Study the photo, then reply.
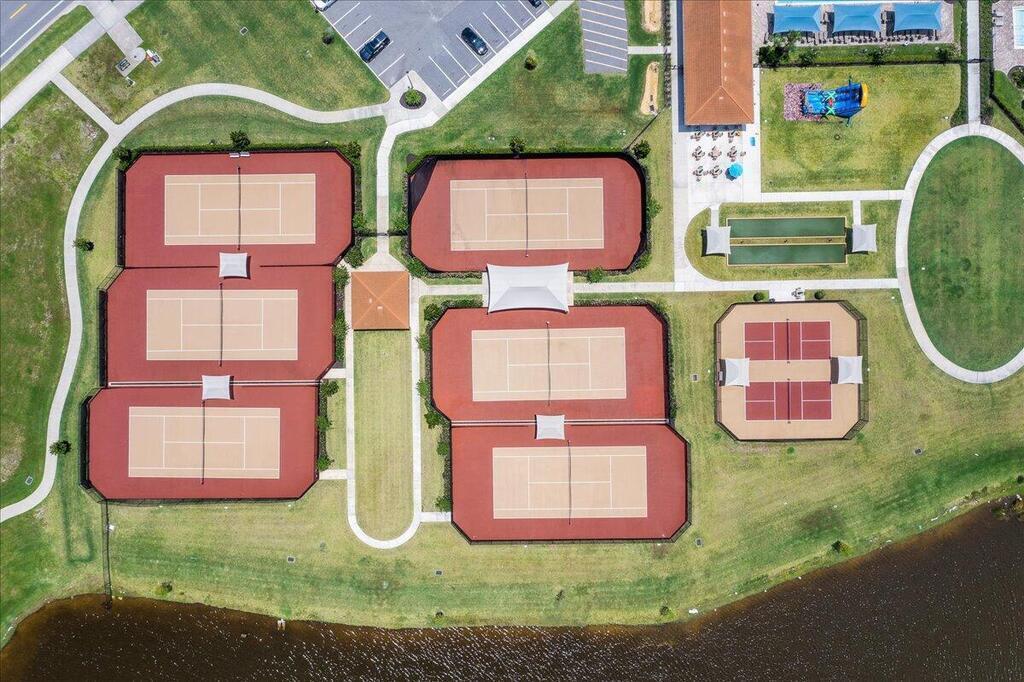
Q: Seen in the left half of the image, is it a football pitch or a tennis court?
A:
tennis court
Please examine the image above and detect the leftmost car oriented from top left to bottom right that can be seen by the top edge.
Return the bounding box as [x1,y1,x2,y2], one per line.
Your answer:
[460,27,488,57]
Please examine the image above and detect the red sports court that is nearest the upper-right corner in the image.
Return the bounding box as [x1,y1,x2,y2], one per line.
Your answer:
[745,318,831,363]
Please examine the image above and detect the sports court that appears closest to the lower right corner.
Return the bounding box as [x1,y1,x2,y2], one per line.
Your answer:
[746,378,832,423]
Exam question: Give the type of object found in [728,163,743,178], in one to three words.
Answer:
umbrella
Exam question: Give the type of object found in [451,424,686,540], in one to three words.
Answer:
tennis court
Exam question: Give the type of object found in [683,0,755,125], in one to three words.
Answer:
building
